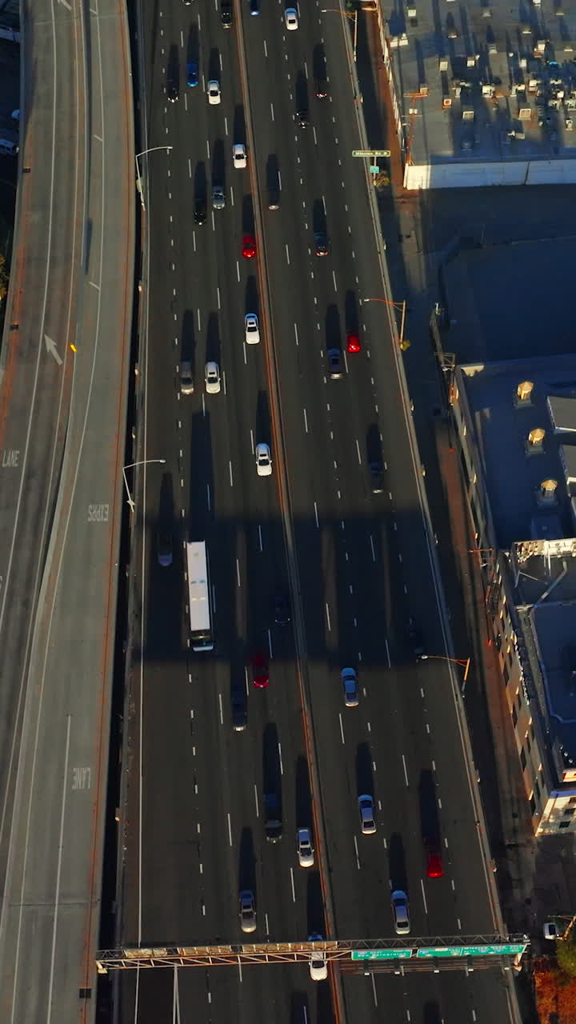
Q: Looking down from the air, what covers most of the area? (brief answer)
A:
paved ground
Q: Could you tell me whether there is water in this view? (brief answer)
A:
No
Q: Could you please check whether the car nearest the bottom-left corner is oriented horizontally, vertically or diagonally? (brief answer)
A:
vertically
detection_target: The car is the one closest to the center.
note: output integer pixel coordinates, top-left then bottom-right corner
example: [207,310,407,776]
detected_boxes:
[256,444,273,476]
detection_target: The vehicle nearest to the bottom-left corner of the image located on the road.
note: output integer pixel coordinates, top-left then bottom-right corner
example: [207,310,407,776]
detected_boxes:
[238,889,259,935]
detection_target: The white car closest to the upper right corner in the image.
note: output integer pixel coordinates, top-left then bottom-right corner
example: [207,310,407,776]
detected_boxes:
[284,11,298,29]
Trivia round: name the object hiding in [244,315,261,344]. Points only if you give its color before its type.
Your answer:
white car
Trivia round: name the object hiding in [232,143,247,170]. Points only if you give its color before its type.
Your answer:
white car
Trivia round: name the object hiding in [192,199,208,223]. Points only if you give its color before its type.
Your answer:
black car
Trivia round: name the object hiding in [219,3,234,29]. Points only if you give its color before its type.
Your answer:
black vehicle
